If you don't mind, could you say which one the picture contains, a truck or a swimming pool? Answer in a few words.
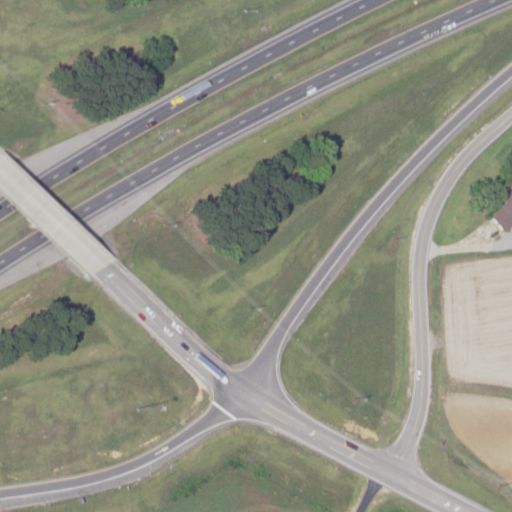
truck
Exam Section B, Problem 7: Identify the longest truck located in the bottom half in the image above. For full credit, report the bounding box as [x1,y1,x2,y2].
[196,350,230,384]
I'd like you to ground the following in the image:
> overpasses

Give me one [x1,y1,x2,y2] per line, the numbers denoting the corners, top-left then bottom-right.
[0,146,116,280]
